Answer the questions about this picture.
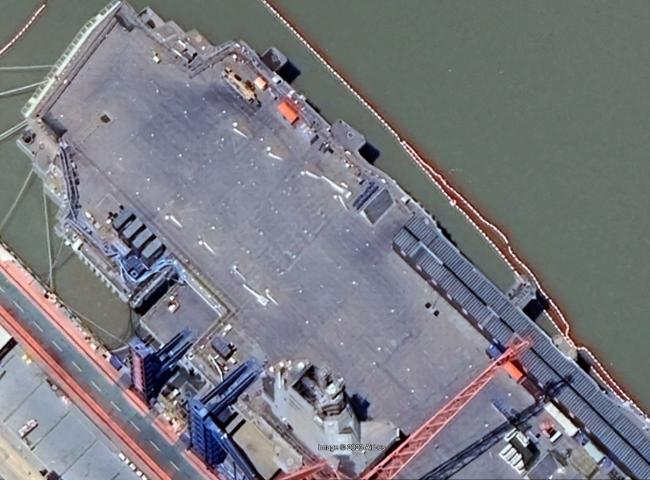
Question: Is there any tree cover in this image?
No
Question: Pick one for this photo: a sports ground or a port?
port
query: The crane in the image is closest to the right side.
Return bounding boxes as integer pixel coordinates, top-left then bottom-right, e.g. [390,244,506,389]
[271,337,534,480]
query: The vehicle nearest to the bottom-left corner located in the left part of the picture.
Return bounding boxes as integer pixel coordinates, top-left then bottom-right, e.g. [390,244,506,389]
[15,417,40,436]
